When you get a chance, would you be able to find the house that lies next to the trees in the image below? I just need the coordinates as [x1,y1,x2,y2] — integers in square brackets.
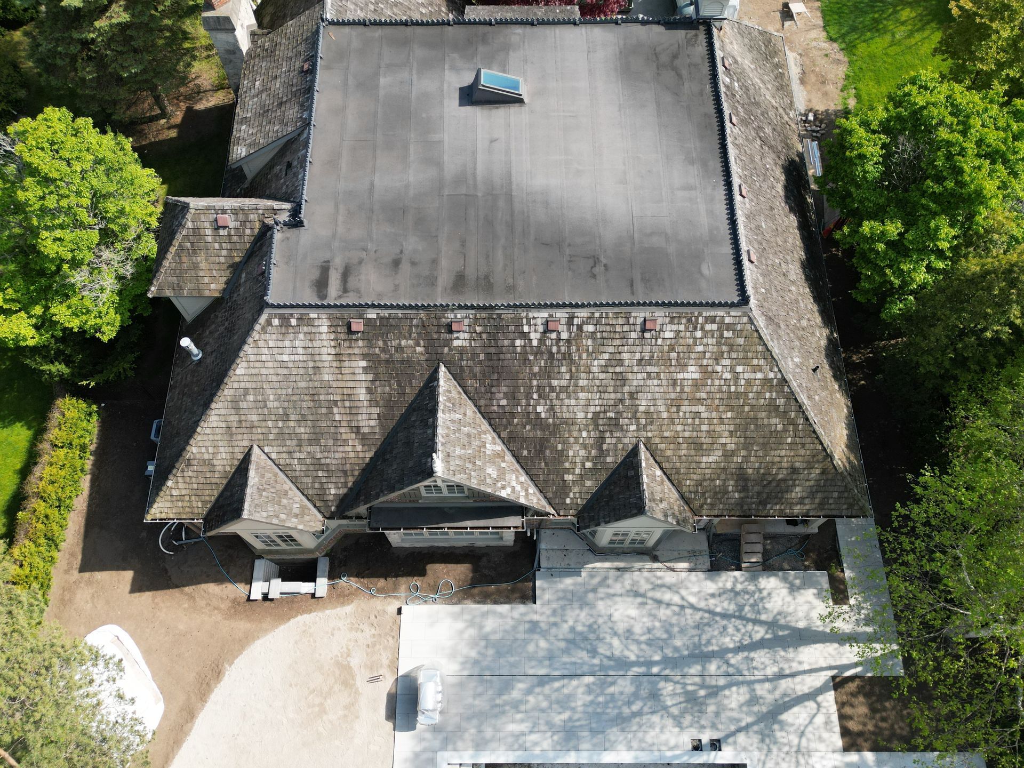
[141,0,877,551]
